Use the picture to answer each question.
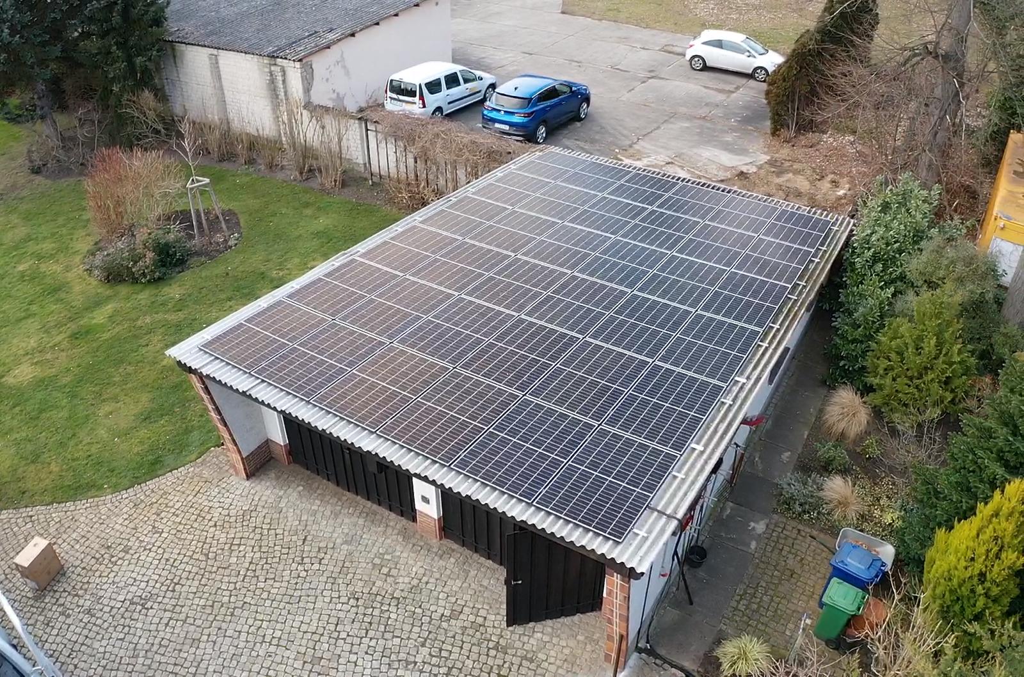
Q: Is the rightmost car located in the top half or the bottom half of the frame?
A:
top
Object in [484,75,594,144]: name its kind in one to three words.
car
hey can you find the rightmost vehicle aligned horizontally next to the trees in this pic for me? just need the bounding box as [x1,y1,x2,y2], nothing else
[687,26,787,81]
